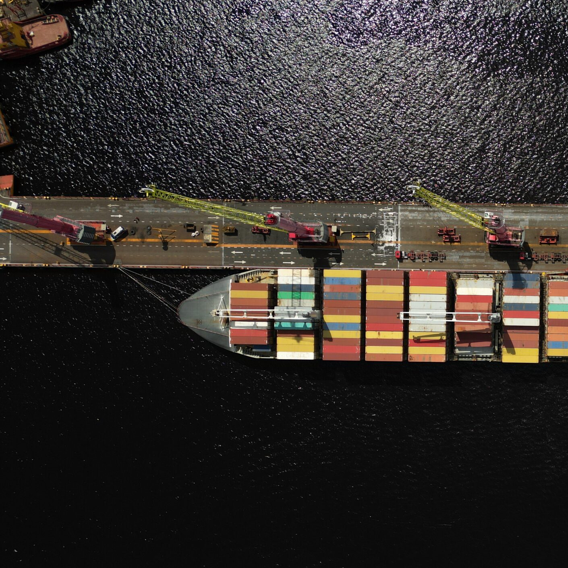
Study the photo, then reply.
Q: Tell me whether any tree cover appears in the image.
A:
No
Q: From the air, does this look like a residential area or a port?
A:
port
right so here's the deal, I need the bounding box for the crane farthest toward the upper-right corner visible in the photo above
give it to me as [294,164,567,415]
[407,180,528,252]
